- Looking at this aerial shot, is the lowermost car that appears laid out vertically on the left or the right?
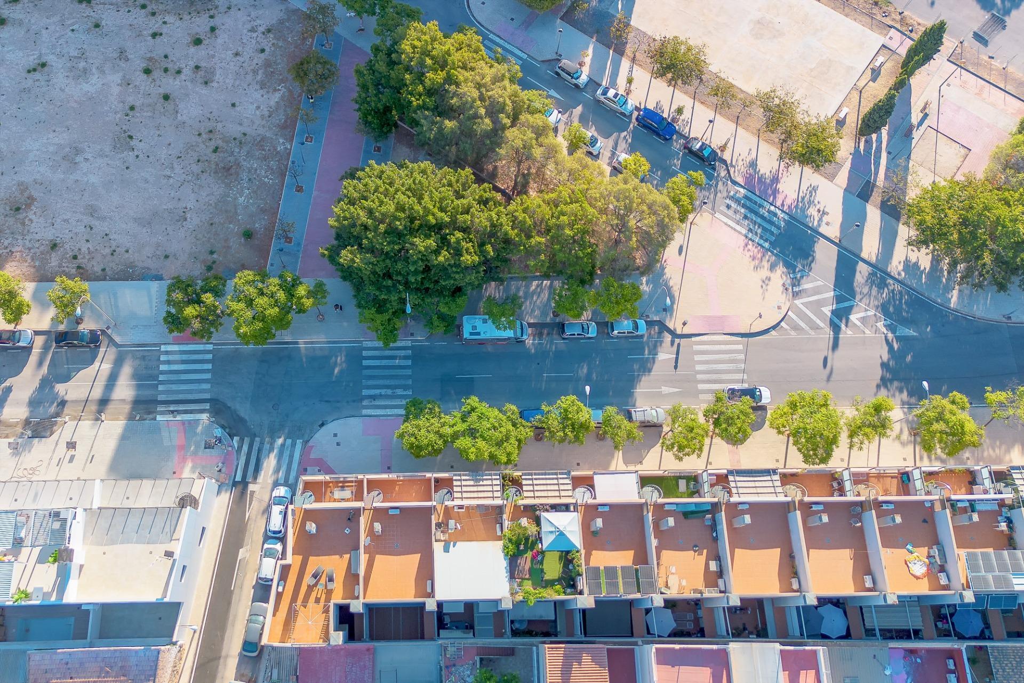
left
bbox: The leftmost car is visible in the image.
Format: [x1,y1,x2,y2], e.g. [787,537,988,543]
[0,327,33,348]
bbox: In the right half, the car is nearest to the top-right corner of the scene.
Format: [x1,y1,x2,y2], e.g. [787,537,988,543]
[680,136,721,167]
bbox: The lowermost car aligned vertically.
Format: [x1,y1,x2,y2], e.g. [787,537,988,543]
[242,602,268,658]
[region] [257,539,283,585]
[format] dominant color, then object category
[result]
white car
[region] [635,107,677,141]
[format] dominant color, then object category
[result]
blue car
